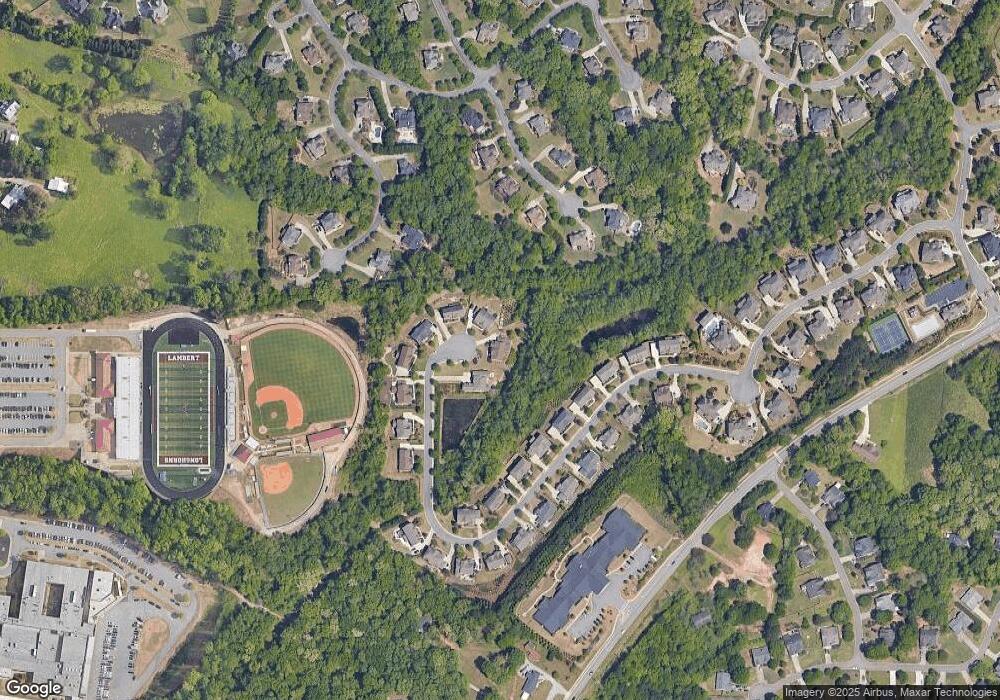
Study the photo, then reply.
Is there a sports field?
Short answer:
Yes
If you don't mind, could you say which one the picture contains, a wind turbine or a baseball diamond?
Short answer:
baseball diamond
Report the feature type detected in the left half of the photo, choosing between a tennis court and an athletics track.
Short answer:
athletics track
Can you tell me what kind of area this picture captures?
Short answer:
residential area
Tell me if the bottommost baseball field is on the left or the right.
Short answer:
left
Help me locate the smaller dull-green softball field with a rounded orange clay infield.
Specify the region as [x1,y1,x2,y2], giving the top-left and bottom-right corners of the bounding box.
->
[256,453,325,527]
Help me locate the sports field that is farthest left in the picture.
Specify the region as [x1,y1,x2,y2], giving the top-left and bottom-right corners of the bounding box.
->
[153,328,215,489]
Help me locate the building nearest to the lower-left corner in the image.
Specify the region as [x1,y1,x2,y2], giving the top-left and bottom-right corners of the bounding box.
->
[0,561,114,698]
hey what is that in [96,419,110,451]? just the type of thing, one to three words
building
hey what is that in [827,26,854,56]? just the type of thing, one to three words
house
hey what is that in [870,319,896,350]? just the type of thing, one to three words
tennis court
